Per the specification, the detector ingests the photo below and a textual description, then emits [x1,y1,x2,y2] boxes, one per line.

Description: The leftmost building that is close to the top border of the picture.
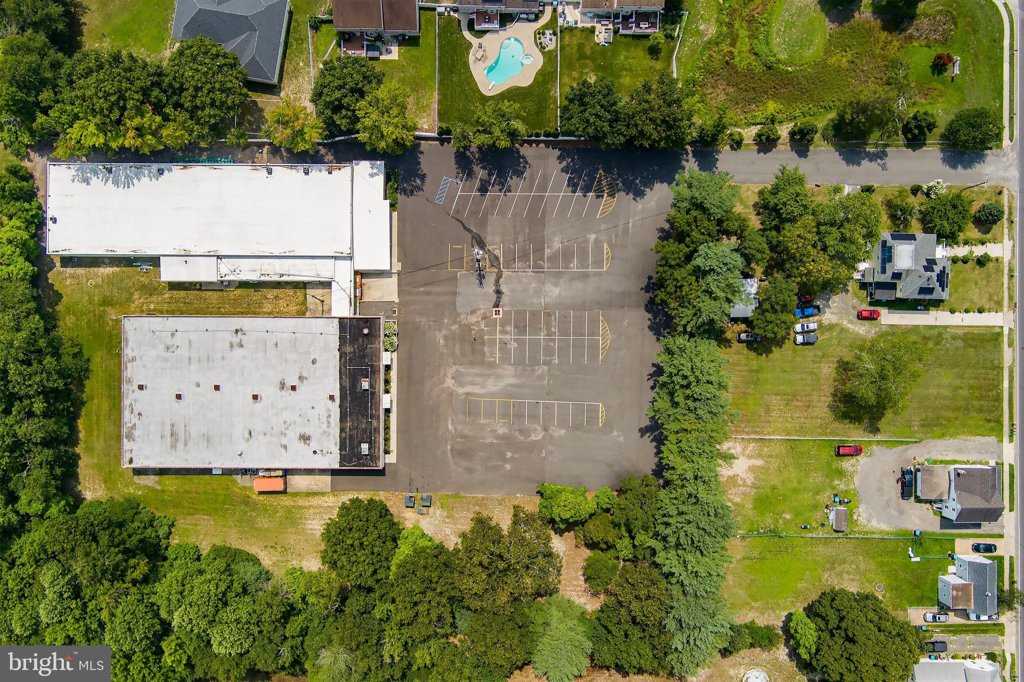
[172,0,292,85]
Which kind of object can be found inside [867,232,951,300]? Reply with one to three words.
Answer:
house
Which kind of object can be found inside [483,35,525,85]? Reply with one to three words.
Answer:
swimming pool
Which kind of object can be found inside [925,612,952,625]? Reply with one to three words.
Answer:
vehicle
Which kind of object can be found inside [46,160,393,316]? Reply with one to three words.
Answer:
building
